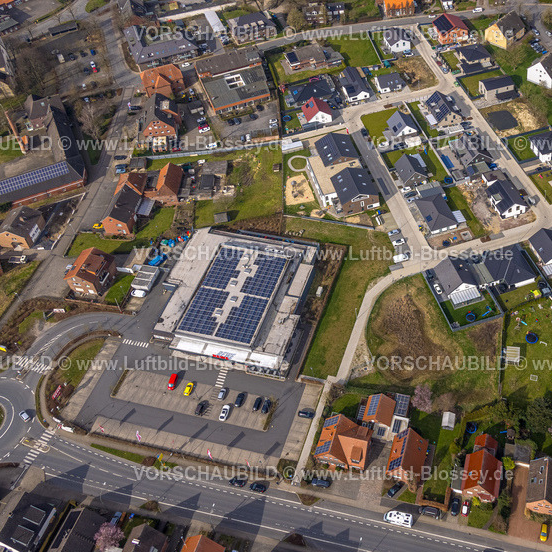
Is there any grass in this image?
Yes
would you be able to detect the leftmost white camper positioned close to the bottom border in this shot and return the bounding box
[383,507,413,528]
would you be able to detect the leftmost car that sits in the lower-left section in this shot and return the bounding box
[18,409,31,423]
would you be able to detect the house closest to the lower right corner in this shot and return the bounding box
[527,458,552,518]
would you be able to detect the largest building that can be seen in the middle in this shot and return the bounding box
[152,226,319,370]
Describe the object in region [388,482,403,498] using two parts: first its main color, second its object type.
black car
